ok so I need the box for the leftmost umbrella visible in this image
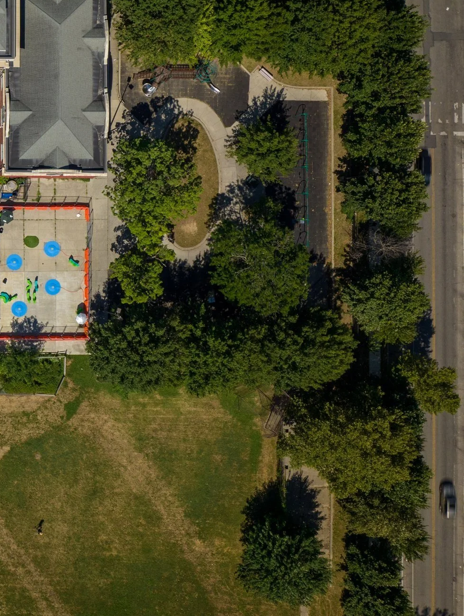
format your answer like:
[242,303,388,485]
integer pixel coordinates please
[0,211,13,226]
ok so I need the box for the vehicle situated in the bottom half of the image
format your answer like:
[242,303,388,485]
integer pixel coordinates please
[442,486,462,520]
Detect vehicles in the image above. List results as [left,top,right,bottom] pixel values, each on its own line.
[419,152,437,187]
[442,486,462,520]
